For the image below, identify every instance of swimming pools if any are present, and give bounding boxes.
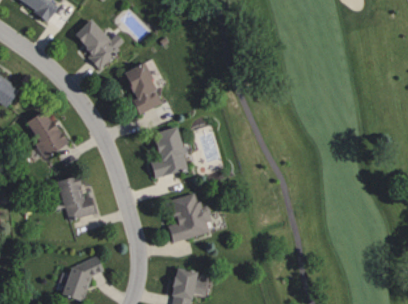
[115,9,150,42]
[191,125,223,176]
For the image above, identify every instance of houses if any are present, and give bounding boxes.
[0,82,16,109]
[64,258,104,301]
[16,0,59,23]
[125,64,168,114]
[28,113,68,161]
[58,177,97,220]
[76,20,126,70]
[150,127,190,178]
[168,194,212,243]
[172,268,207,304]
